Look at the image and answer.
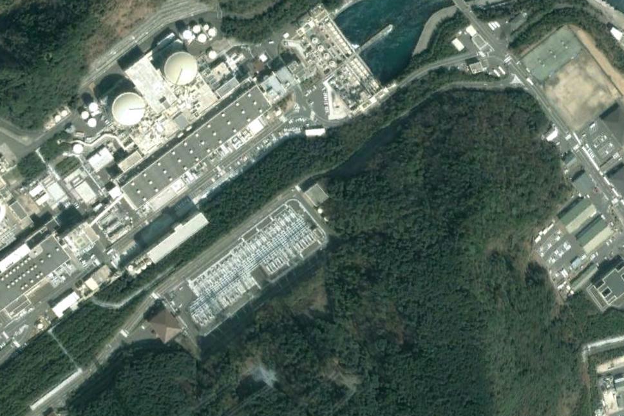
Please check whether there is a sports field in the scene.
Yes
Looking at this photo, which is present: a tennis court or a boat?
tennis court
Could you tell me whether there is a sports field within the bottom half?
No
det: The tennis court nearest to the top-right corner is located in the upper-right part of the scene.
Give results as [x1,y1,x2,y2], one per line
[552,25,583,58]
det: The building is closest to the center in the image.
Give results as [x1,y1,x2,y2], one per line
[302,181,330,206]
